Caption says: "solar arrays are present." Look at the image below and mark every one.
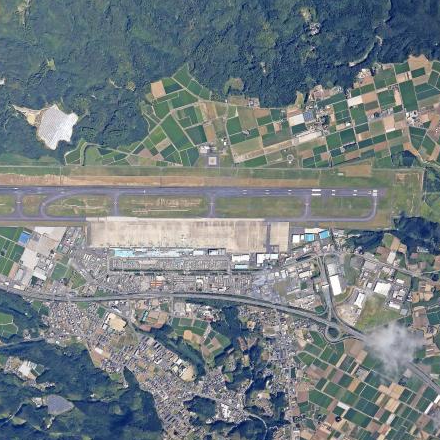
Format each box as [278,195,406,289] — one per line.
[38,105,78,149]
[43,394,75,415]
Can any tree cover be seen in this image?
Yes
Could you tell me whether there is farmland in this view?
Yes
